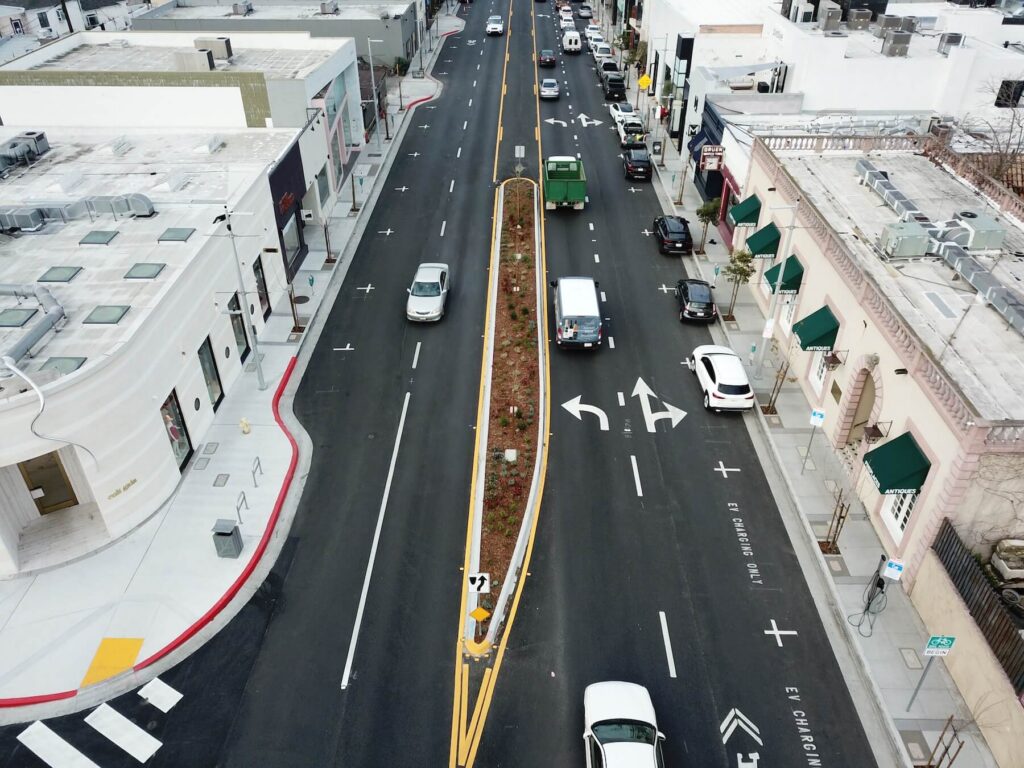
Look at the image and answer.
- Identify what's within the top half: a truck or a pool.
truck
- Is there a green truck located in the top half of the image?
Yes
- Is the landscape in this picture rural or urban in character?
urban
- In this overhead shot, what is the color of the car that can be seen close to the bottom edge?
white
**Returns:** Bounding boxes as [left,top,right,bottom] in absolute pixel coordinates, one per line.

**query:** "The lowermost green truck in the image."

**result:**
[540,152,587,212]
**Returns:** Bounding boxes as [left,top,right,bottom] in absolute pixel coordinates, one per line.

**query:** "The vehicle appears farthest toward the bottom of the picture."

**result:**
[578,681,673,768]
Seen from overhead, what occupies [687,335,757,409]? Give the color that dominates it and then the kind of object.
white car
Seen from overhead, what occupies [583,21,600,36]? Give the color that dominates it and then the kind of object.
white car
